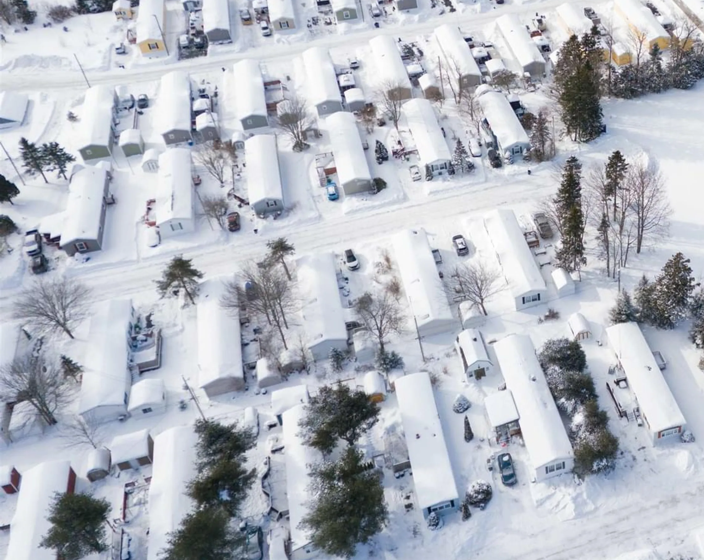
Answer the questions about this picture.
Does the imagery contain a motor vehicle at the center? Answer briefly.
Yes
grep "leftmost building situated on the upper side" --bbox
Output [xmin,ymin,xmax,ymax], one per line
[0,90,39,131]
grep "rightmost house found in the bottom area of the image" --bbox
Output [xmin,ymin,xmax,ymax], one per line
[602,325,688,449]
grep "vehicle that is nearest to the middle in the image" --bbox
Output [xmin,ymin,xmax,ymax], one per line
[344,249,360,272]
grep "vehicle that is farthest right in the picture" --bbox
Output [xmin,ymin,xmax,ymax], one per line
[584,8,596,22]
